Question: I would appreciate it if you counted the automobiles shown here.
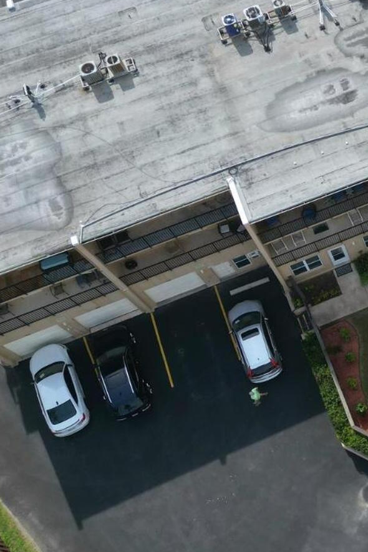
three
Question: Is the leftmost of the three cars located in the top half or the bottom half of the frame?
bottom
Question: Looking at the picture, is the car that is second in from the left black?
Yes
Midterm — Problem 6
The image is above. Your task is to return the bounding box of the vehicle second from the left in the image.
[93,328,150,425]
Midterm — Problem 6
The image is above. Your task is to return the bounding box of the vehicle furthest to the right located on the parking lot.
[230,296,283,390]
